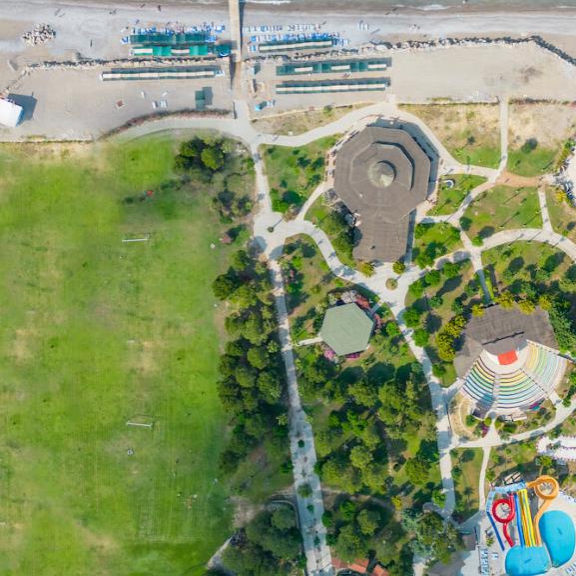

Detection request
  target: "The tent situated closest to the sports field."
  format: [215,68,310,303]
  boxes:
[0,99,29,130]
